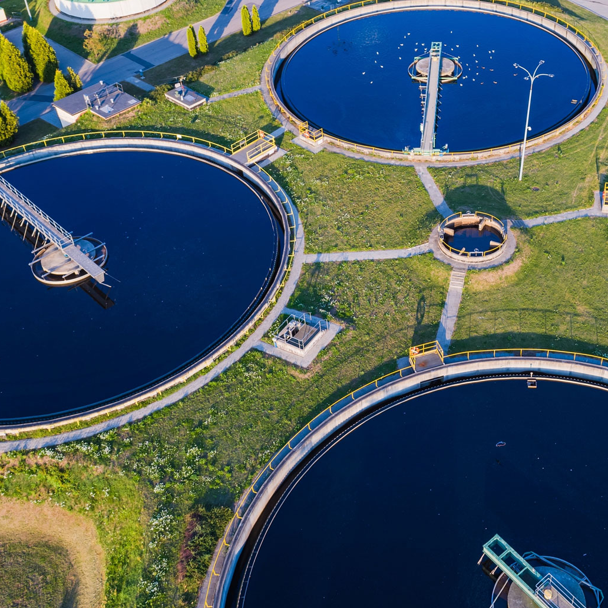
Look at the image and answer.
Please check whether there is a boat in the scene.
No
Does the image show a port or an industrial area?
industrial area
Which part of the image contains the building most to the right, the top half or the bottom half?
top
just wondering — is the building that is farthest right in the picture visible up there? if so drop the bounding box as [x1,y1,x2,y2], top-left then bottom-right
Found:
[165,71,207,113]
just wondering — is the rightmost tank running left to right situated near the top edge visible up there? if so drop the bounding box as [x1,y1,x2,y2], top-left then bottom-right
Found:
[269,0,605,164]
